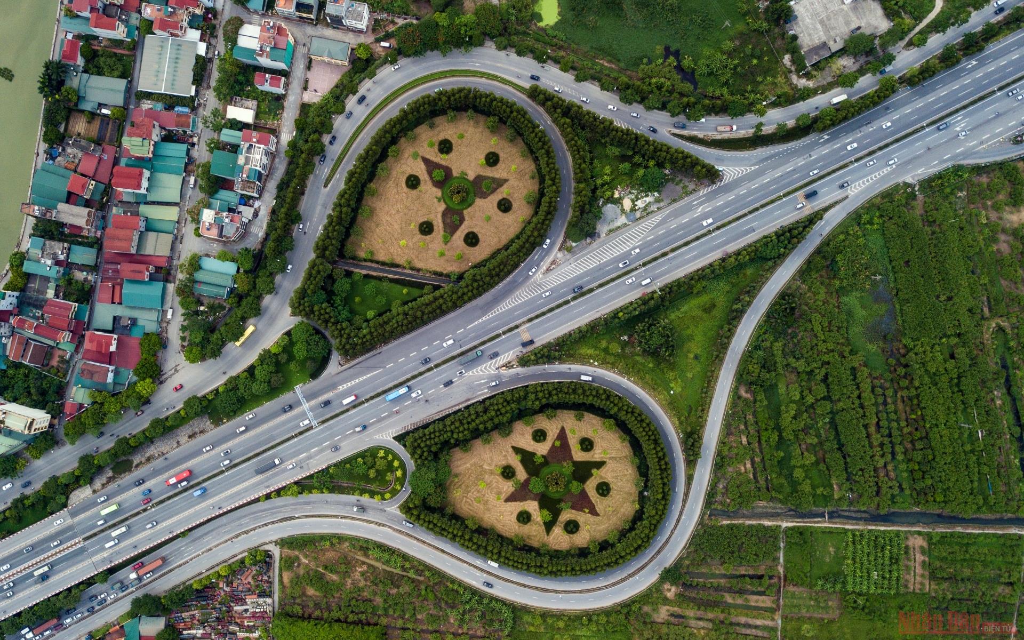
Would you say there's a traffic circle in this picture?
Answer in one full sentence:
No, there is no traffic circle in the image.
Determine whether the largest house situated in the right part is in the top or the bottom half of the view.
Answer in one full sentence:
Seen from above, the largest house situated in the right part lies in the top half of the view.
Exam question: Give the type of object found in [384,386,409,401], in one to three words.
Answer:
vehicle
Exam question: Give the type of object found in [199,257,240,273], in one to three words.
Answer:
house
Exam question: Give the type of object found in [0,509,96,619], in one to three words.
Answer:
bridge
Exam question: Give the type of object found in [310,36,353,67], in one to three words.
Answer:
building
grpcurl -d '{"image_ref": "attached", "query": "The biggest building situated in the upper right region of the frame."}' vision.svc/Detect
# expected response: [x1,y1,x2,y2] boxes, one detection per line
[801,42,831,66]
